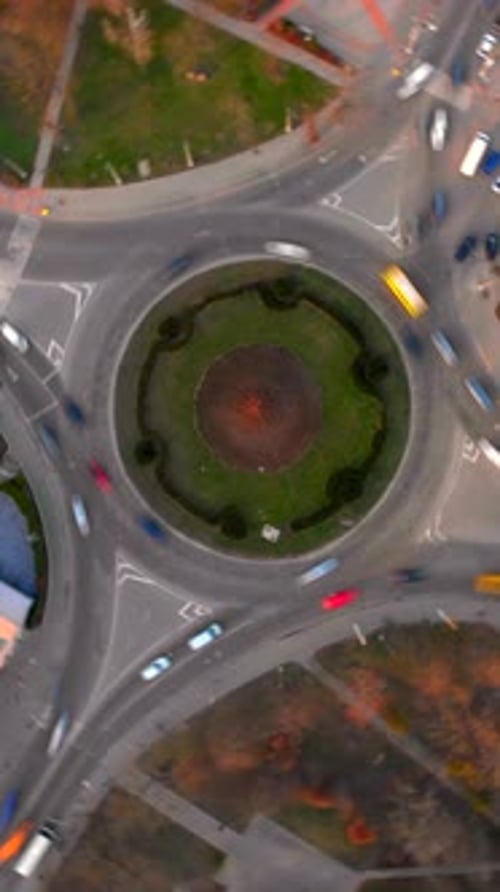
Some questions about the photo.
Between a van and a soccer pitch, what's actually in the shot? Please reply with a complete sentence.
There is a van in the scene.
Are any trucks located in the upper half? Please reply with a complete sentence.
Yes, looking in the upper half, one can make out a truck.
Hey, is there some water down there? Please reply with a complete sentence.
No, there is no water in the image.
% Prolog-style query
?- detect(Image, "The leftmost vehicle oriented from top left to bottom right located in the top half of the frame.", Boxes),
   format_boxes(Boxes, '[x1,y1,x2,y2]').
[0,321,28,352]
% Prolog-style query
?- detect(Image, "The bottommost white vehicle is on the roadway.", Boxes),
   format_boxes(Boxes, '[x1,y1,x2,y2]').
[11,826,53,883]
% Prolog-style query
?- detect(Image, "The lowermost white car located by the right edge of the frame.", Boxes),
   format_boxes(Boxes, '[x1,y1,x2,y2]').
[477,435,500,469]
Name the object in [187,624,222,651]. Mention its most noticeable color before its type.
white car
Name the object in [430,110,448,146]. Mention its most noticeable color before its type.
white car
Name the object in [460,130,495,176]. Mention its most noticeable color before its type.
white truck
